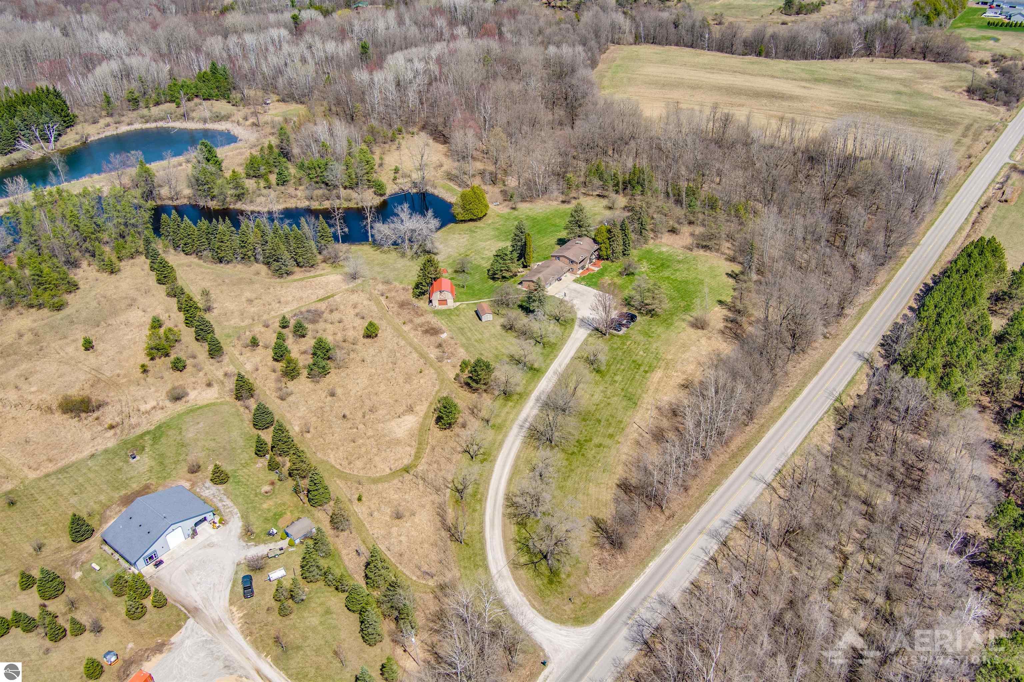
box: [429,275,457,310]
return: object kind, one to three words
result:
barn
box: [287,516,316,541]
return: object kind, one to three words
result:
shed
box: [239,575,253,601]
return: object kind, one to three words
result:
vehicle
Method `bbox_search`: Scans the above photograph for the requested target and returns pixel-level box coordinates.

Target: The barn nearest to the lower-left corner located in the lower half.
[101,485,215,571]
